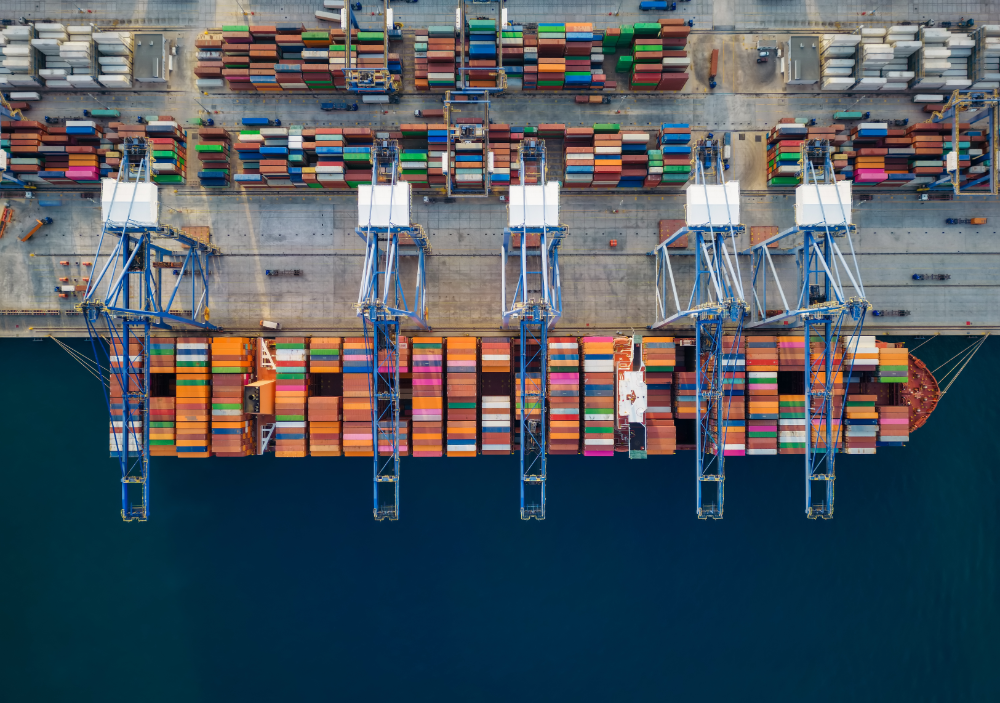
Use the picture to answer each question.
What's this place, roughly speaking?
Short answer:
port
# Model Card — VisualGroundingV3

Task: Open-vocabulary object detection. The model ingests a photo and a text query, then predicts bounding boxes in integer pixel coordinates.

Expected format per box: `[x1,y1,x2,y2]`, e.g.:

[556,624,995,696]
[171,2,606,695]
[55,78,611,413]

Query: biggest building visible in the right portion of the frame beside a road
[787,36,819,84]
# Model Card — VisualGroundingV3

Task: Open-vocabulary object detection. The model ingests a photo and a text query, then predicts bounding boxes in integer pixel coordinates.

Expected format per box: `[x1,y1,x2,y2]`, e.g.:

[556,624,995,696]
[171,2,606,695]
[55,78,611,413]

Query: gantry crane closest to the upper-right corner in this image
[924,90,1000,197]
